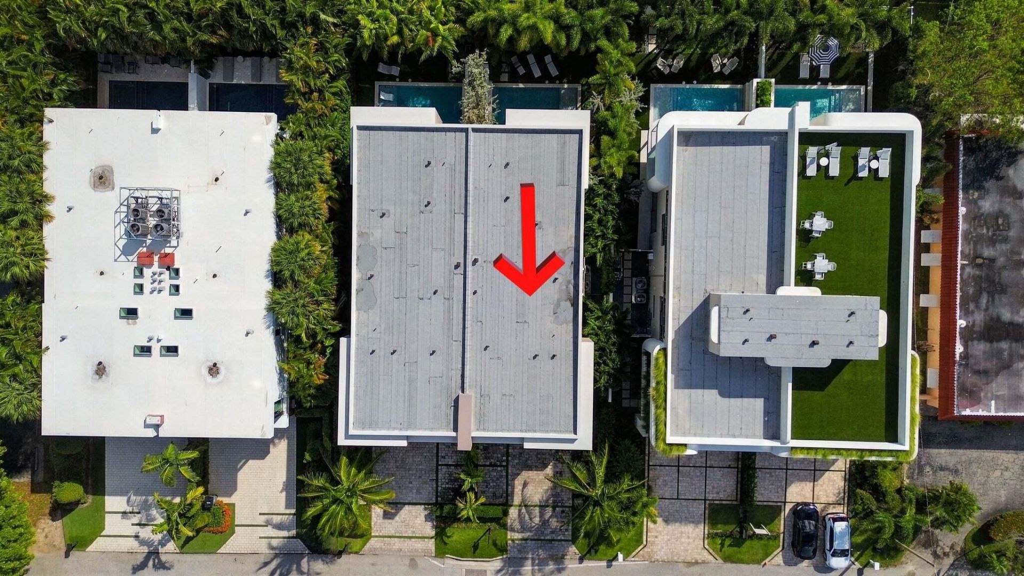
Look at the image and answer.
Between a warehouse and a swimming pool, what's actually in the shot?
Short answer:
swimming pool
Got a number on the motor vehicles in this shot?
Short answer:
2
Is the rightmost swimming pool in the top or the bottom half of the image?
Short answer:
top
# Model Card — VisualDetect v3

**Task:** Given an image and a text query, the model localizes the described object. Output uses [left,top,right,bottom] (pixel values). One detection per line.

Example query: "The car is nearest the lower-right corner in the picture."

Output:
[820,512,854,571]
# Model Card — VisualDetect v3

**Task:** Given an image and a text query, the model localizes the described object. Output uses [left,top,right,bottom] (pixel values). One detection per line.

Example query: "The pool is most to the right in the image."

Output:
[776,85,858,120]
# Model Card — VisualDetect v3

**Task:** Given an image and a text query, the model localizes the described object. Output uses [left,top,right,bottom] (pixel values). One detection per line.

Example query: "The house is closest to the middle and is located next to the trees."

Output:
[338,107,594,450]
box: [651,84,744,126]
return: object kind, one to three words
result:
swimming pool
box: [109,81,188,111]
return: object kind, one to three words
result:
swimming pool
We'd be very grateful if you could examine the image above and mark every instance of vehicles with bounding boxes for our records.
[820,512,854,571]
[790,500,824,565]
